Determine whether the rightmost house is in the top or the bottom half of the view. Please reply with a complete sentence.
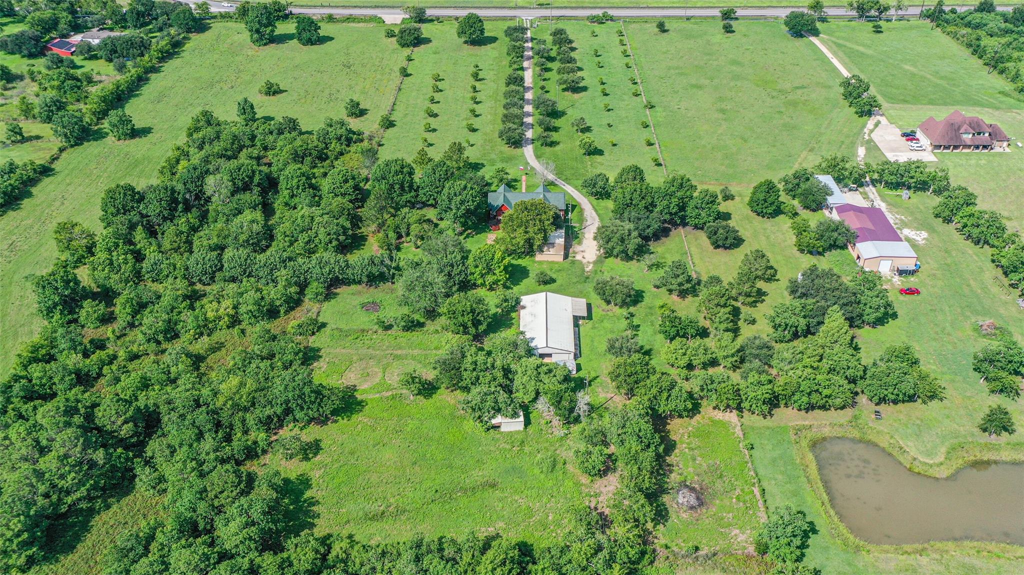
It is in the top half that the rightmost house appears.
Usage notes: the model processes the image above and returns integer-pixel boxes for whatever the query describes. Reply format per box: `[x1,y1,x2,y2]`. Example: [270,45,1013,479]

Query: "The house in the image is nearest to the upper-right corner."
[917,107,1013,152]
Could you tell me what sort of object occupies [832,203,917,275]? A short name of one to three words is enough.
building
